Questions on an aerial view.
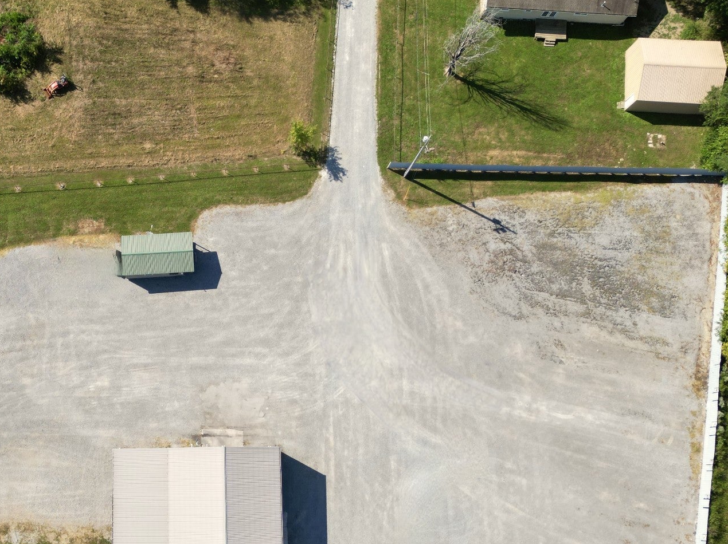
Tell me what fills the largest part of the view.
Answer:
paved ground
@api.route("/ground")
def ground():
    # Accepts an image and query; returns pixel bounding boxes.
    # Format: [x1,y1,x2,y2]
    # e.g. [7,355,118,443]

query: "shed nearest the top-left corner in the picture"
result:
[120,231,194,277]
